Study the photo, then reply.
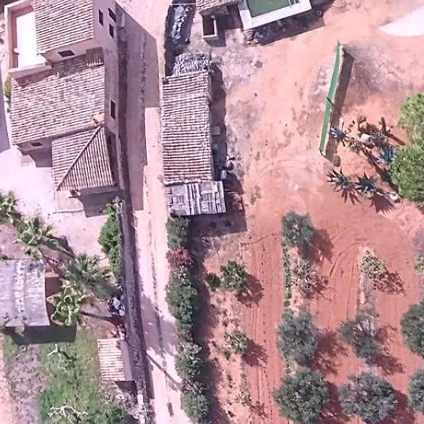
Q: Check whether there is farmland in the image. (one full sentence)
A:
Yes, farmland shows up in the scene.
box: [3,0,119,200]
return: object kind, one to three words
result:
house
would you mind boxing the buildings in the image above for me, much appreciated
[196,0,240,16]
[3,0,119,200]
[160,69,215,186]
[96,340,130,382]
[0,258,57,330]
